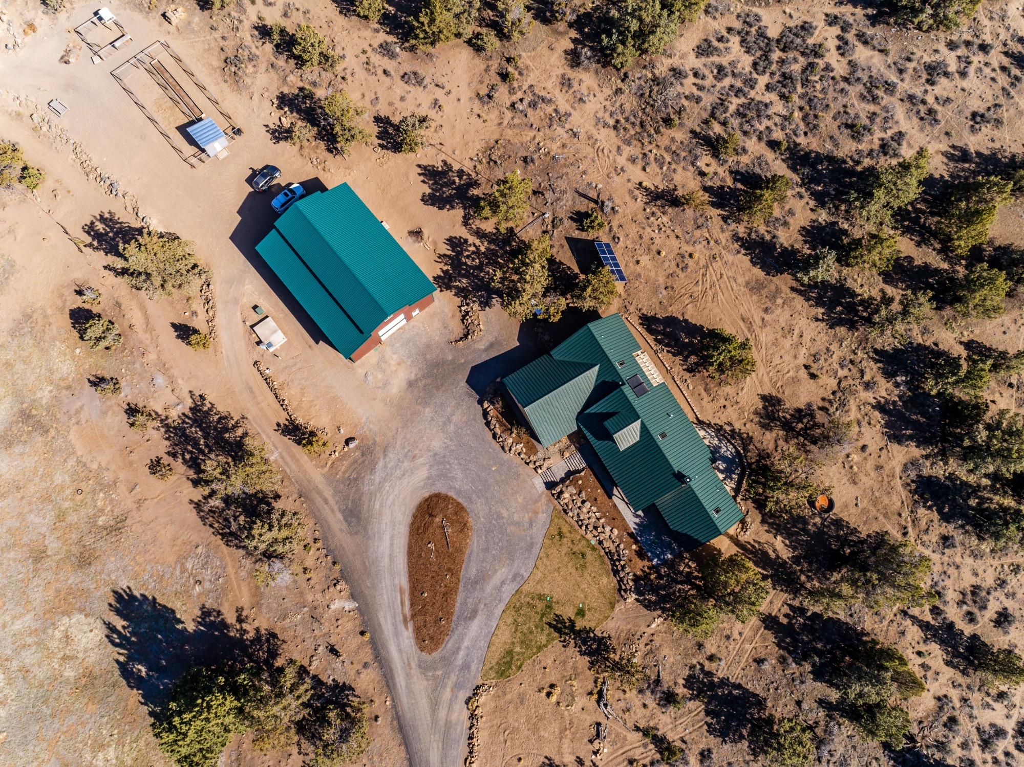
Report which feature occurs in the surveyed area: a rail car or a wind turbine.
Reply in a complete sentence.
Of the two, only a wind turbine appears.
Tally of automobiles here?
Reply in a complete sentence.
The picture shows 2 automobiles.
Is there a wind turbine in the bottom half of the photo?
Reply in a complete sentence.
No, no wind turbine is visible in the bottom half of the photo.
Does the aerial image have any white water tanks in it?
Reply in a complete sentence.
No, no white water tank is visible in the scene.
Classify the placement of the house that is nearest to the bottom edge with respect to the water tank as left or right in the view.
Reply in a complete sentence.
From the viewer's perspective, the house that is nearest to the bottom edge falls to the left of the water tank.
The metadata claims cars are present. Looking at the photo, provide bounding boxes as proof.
[271,181,306,212]
[251,162,282,192]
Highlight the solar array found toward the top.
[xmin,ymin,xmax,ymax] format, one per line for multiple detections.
[595,242,627,282]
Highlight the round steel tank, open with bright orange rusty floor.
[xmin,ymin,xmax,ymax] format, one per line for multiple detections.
[810,493,836,525]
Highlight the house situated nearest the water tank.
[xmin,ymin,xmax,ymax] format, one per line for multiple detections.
[503,313,744,552]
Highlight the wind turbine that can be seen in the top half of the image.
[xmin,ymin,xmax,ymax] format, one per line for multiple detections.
[525,159,571,236]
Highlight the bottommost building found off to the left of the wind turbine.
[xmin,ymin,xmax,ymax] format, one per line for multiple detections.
[256,184,436,363]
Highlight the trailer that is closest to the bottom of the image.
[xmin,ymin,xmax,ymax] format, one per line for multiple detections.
[252,316,289,355]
